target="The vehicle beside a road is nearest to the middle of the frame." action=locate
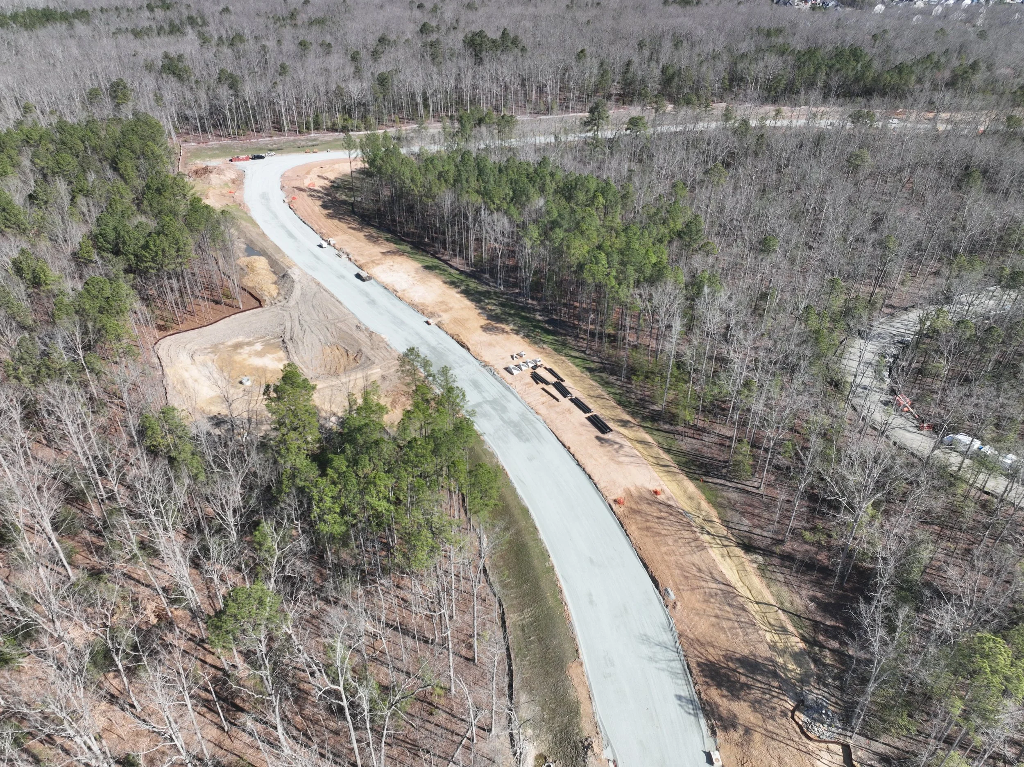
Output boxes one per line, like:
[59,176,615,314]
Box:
[355,265,371,278]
